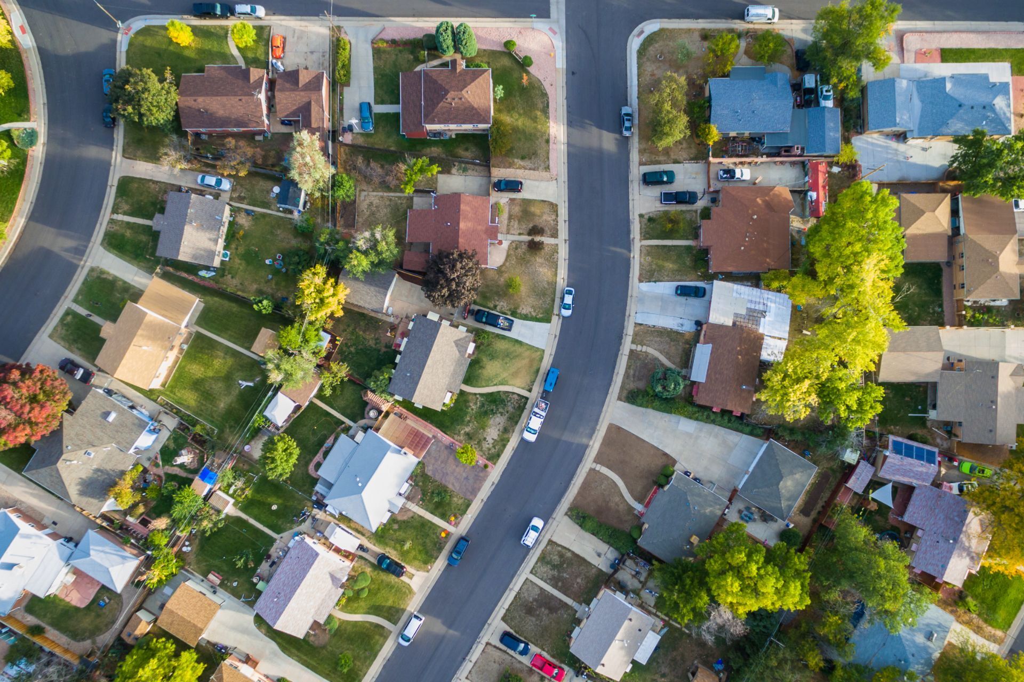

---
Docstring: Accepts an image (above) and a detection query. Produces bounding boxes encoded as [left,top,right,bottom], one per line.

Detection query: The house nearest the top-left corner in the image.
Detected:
[177,65,273,134]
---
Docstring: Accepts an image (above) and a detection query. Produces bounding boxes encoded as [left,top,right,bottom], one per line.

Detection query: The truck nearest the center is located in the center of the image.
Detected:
[473,309,515,331]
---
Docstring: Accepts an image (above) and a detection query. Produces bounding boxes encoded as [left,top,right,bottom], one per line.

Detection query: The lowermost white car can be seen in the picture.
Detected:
[400,612,424,647]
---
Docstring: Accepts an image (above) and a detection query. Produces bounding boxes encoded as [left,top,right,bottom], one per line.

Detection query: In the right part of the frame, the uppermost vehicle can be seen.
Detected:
[743,4,779,23]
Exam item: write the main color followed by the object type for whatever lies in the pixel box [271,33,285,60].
orange car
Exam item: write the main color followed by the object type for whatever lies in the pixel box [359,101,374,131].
blue car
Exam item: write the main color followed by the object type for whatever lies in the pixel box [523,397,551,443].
white truck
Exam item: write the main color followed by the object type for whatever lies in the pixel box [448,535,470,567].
blue car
